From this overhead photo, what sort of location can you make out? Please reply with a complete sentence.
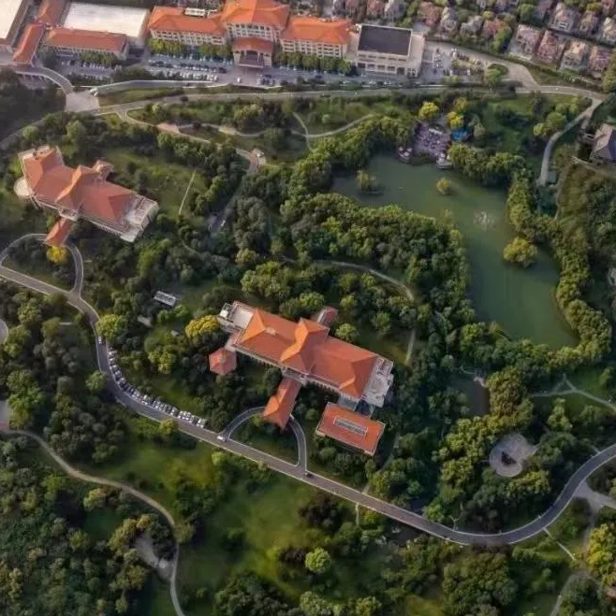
What you see here is a residential area.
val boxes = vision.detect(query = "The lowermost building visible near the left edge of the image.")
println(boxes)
[8,147,165,250]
